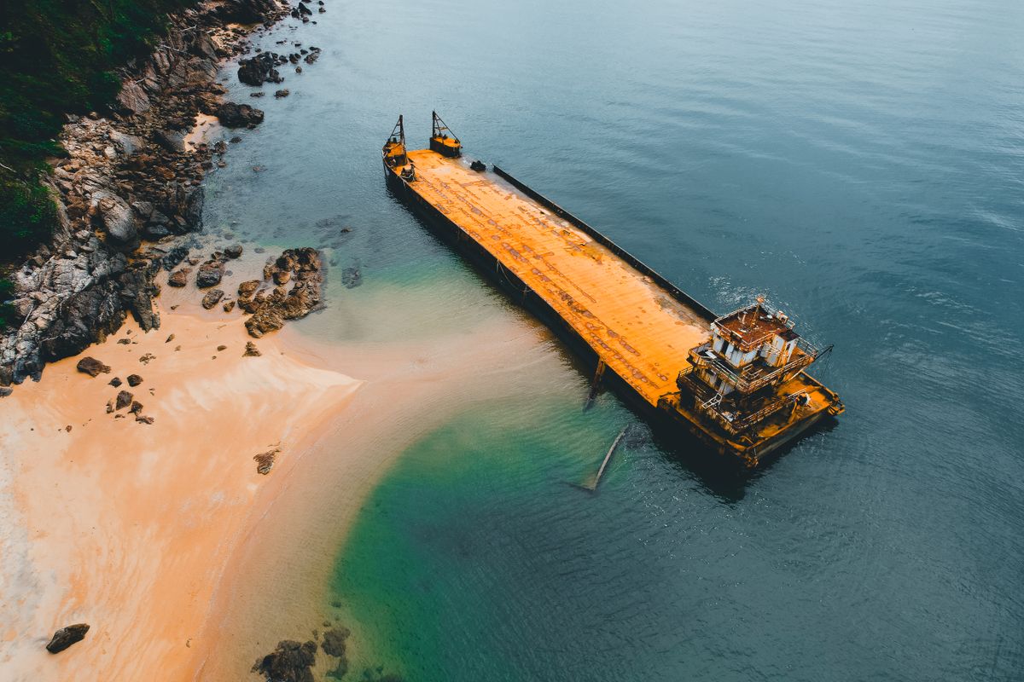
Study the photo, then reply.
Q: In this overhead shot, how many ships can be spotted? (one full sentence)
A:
In total, there is 1 ship in the scene.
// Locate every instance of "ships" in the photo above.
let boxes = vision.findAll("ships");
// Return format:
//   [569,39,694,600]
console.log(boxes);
[380,104,850,477]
